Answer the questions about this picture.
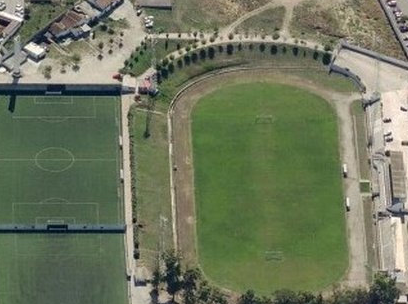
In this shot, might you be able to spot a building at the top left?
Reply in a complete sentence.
Yes, a building shows up at the top left.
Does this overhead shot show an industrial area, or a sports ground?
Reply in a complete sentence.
This image shows a sports ground.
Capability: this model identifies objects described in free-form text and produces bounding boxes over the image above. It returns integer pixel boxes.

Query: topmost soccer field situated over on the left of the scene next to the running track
[0,89,126,231]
